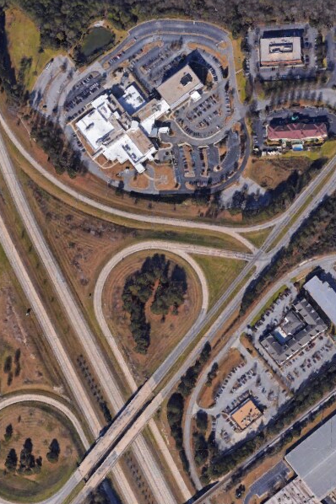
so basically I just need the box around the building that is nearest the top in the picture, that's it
[260,38,303,67]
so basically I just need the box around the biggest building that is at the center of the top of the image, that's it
[76,66,204,173]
